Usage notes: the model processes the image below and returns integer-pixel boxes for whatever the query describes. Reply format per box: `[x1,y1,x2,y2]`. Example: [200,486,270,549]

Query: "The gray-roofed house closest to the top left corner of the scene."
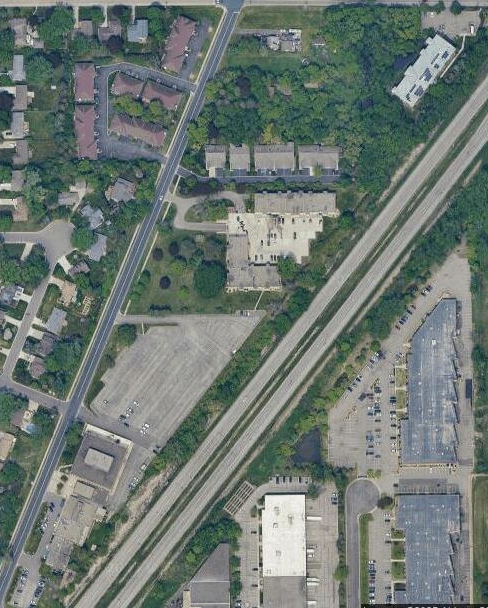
[11,18,26,46]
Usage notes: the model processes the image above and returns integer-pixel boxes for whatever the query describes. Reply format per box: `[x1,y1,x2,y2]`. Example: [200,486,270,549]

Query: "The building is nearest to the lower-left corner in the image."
[47,538,73,571]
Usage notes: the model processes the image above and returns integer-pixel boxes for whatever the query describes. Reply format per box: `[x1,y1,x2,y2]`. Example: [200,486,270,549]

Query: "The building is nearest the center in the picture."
[227,234,280,291]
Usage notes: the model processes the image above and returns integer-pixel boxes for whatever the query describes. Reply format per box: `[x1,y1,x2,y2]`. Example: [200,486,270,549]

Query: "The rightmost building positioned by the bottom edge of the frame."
[393,495,460,608]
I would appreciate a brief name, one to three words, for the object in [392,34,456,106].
building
